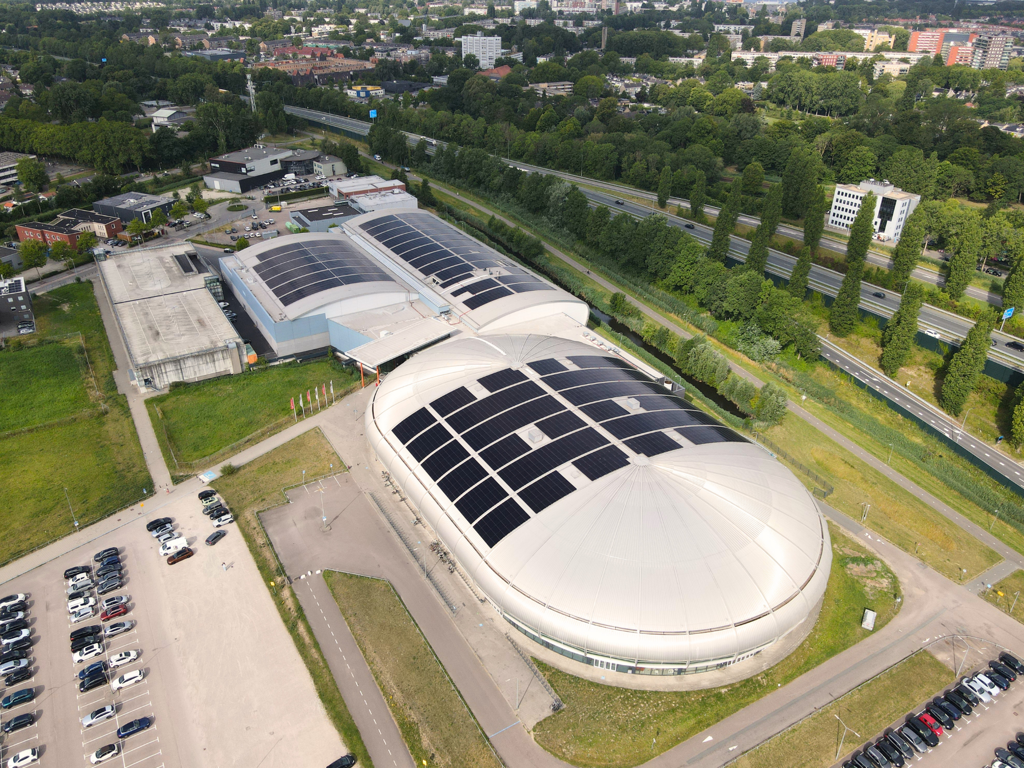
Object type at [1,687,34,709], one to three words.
car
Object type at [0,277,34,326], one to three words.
building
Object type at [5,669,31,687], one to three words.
car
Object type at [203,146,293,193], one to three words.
building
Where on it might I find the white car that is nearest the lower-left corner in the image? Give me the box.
[6,748,38,768]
